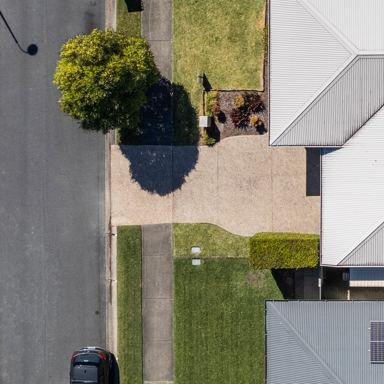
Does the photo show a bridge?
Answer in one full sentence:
No, I can't see a single bridge in this photo.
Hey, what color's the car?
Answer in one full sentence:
From above, the car appears black.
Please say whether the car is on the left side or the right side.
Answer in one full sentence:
The car sits on the left side.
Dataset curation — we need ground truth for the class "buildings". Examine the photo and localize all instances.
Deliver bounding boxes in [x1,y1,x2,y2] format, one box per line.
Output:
[266,299,384,384]
[268,0,384,268]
